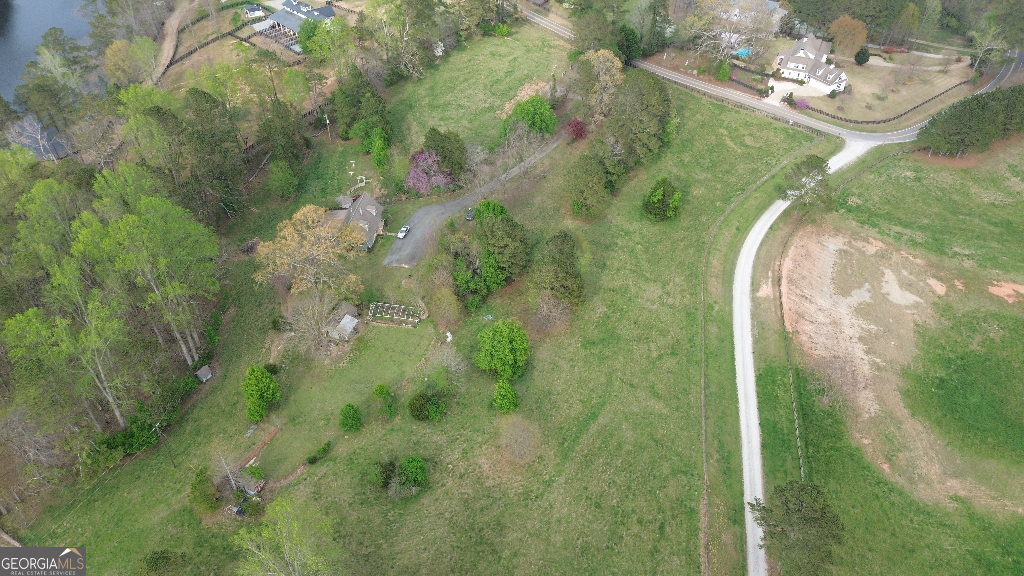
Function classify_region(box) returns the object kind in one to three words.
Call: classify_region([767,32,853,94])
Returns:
house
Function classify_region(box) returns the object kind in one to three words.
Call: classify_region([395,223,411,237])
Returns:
car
